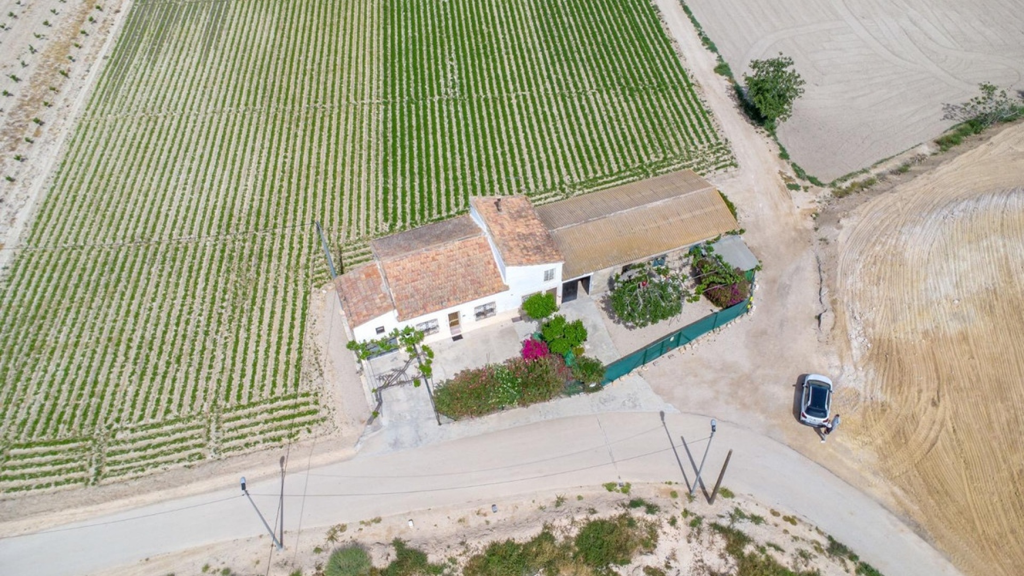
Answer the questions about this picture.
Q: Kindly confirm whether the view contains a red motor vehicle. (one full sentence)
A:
No, there's no red motor vehicle here.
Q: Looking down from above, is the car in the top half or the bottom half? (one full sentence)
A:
You can find the car in the bottom half.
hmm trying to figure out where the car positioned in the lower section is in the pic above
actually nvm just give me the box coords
[797,370,836,429]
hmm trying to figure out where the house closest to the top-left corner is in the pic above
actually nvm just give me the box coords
[335,193,564,349]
